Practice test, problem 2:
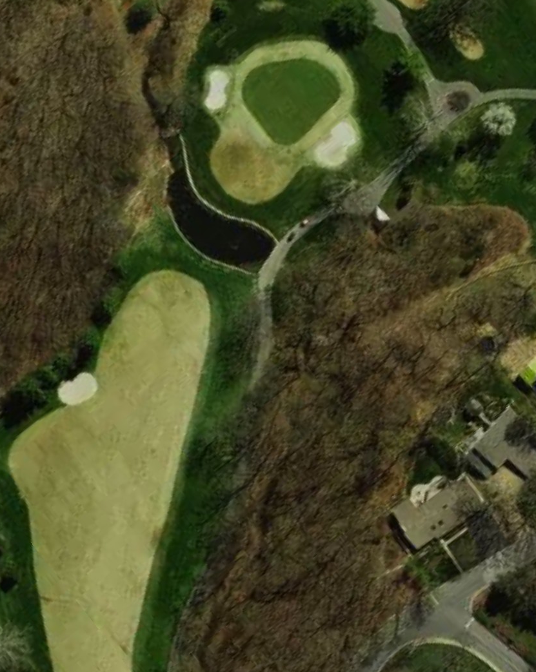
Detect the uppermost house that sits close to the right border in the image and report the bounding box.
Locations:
[465,407,536,482]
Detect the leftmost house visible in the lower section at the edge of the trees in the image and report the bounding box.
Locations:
[392,474,490,553]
